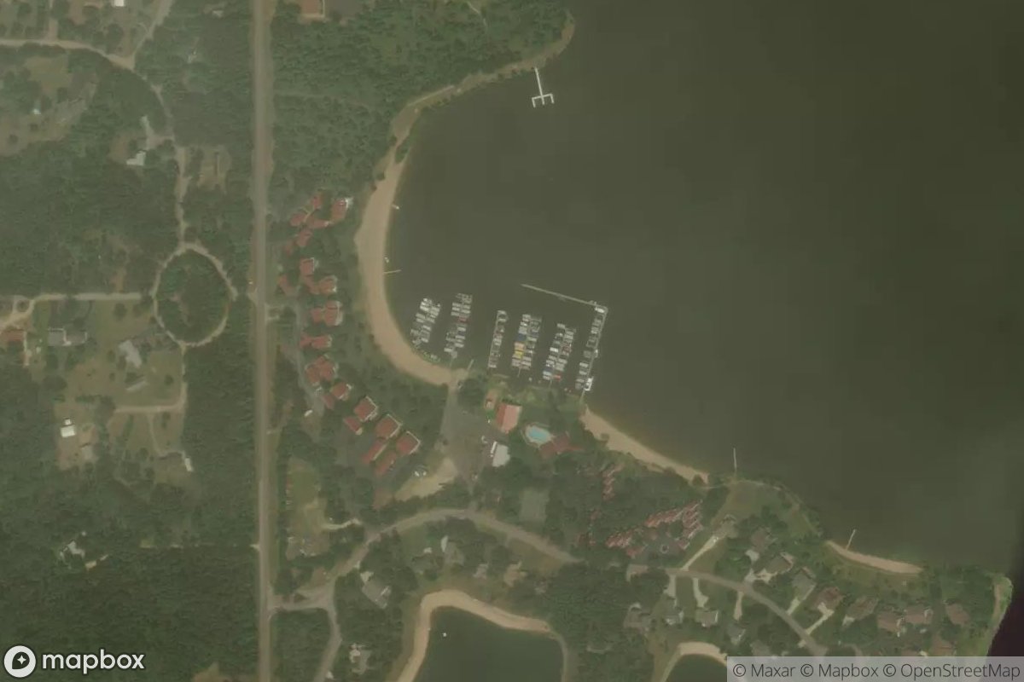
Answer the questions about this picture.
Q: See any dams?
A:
No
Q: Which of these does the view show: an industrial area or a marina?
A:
marina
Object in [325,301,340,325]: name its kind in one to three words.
building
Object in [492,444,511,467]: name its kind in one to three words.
shed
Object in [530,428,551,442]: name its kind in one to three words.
swimming pool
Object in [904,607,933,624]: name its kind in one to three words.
house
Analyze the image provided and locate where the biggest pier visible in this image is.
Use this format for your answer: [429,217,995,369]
[522,283,609,402]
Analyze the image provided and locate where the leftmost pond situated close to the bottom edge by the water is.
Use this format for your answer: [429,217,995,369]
[417,608,562,682]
